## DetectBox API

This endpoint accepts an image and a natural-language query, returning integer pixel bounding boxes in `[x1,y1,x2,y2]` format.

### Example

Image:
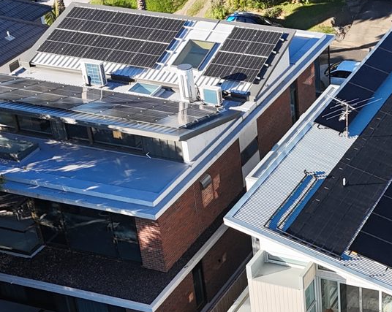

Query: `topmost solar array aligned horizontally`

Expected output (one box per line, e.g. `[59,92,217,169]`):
[37,6,187,67]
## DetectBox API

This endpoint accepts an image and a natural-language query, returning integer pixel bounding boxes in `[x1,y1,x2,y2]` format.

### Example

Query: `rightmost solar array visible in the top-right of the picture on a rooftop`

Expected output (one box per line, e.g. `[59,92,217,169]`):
[318,37,392,134]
